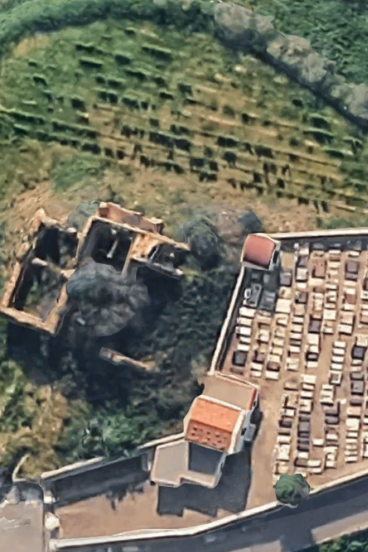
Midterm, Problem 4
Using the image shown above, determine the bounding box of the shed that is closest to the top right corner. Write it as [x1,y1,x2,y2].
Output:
[241,233,284,270]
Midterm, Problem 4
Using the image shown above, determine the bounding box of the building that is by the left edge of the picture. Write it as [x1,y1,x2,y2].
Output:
[0,209,100,335]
